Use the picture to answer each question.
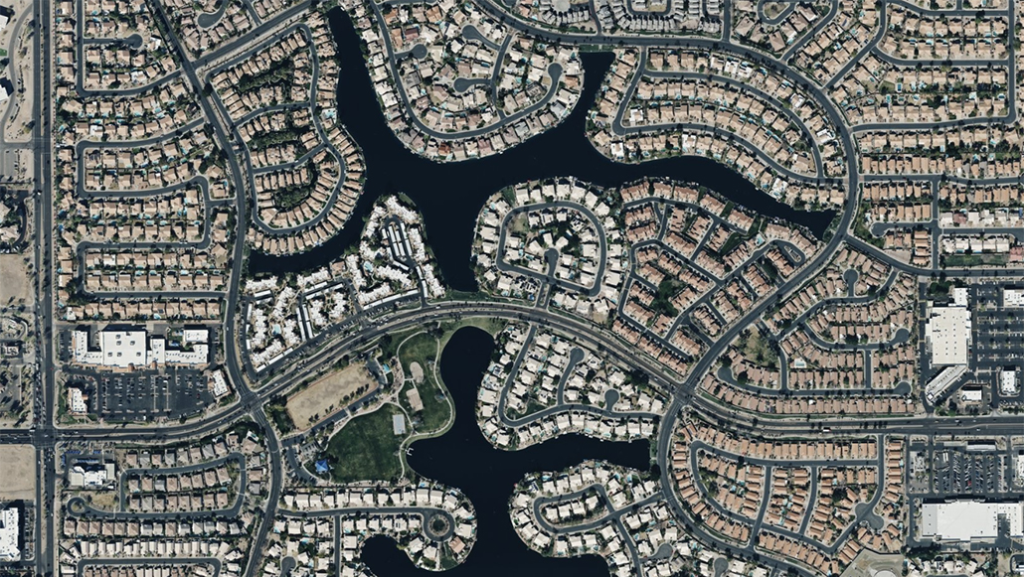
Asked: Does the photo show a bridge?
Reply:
No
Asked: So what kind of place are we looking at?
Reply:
residential area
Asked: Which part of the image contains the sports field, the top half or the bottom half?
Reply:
bottom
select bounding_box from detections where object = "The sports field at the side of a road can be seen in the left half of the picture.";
[288,365,377,428]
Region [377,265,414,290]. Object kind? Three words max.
building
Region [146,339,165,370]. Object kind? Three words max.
building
